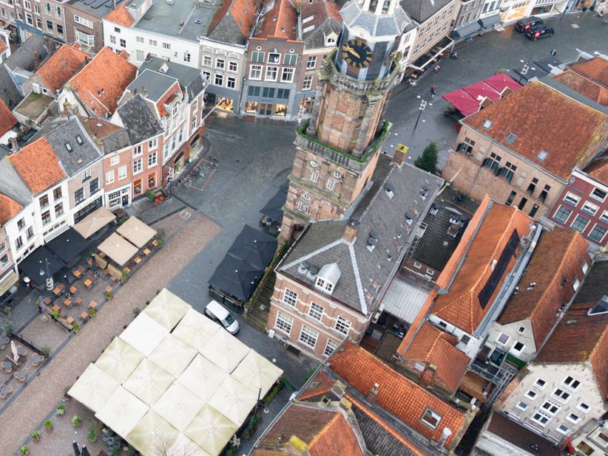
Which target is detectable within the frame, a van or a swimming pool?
van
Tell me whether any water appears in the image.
No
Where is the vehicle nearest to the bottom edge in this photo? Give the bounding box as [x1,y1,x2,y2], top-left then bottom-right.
[203,293,245,336]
